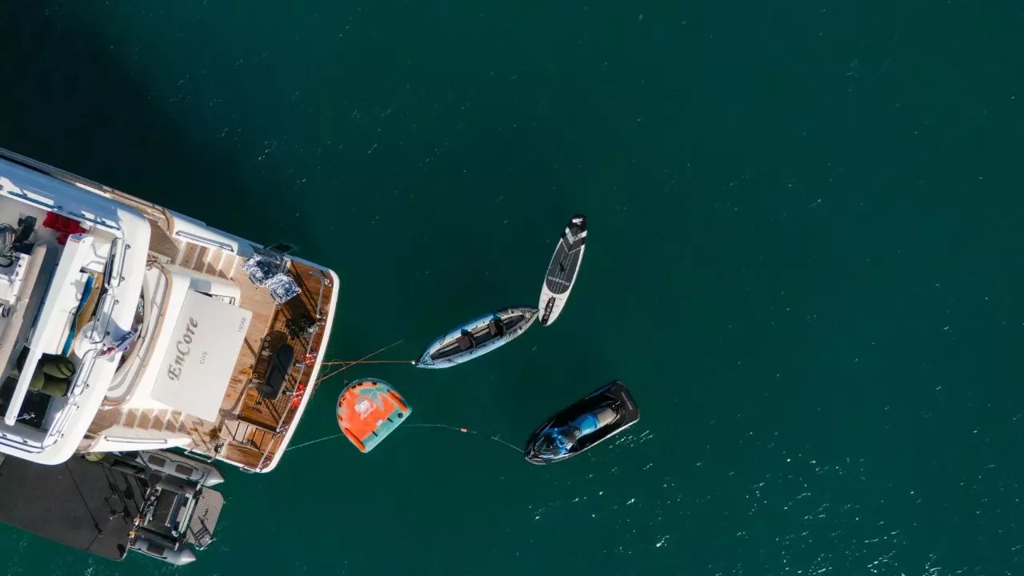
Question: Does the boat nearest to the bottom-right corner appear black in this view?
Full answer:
Yes, black is the color of the boat nearest to the bottom-right corner.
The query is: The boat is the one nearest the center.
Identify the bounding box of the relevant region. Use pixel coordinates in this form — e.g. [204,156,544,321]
[412,309,538,368]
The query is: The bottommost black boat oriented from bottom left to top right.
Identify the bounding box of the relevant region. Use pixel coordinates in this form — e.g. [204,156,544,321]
[529,385,638,467]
